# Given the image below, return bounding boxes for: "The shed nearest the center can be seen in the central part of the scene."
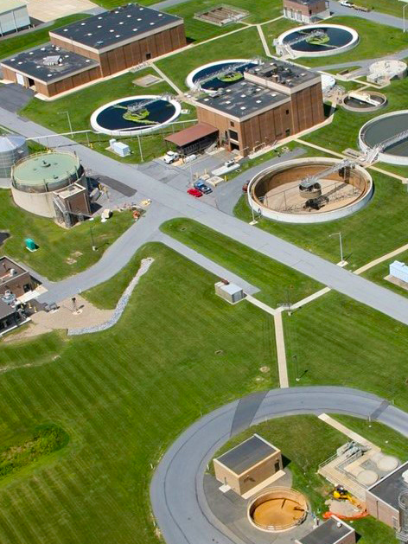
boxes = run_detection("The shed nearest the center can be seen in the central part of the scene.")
[215,278,245,303]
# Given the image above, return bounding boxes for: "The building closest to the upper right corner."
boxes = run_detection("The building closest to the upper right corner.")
[283,0,333,21]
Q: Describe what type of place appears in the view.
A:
industrial area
